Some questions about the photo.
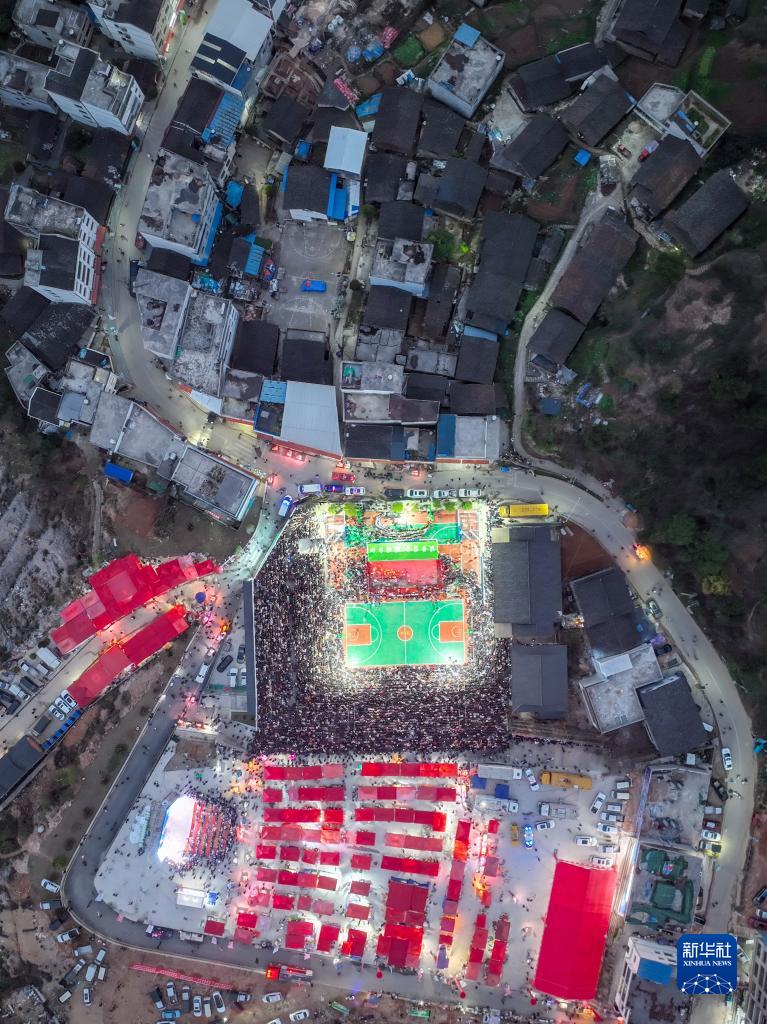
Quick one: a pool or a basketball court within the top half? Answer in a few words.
basketball court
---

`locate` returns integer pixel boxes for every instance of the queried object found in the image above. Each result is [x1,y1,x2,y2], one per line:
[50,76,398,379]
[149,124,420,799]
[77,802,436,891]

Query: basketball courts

[330,511,479,588]
[278,224,345,332]
[346,601,466,667]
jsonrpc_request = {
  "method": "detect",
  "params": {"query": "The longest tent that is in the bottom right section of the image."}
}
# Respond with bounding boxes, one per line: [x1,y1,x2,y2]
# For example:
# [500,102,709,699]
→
[530,854,617,1000]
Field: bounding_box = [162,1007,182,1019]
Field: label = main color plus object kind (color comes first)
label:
blue vehicle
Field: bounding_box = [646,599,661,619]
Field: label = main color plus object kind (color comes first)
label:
gray car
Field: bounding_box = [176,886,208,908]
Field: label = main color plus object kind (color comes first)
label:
white tent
